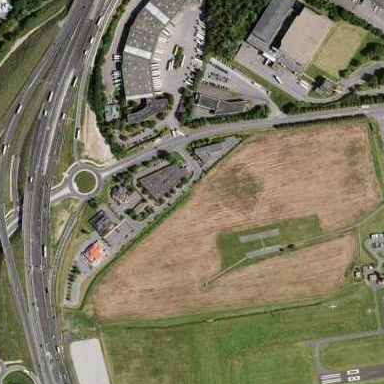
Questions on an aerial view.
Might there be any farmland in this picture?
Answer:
Yes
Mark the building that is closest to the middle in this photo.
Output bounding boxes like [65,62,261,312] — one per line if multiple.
[139,165,181,200]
